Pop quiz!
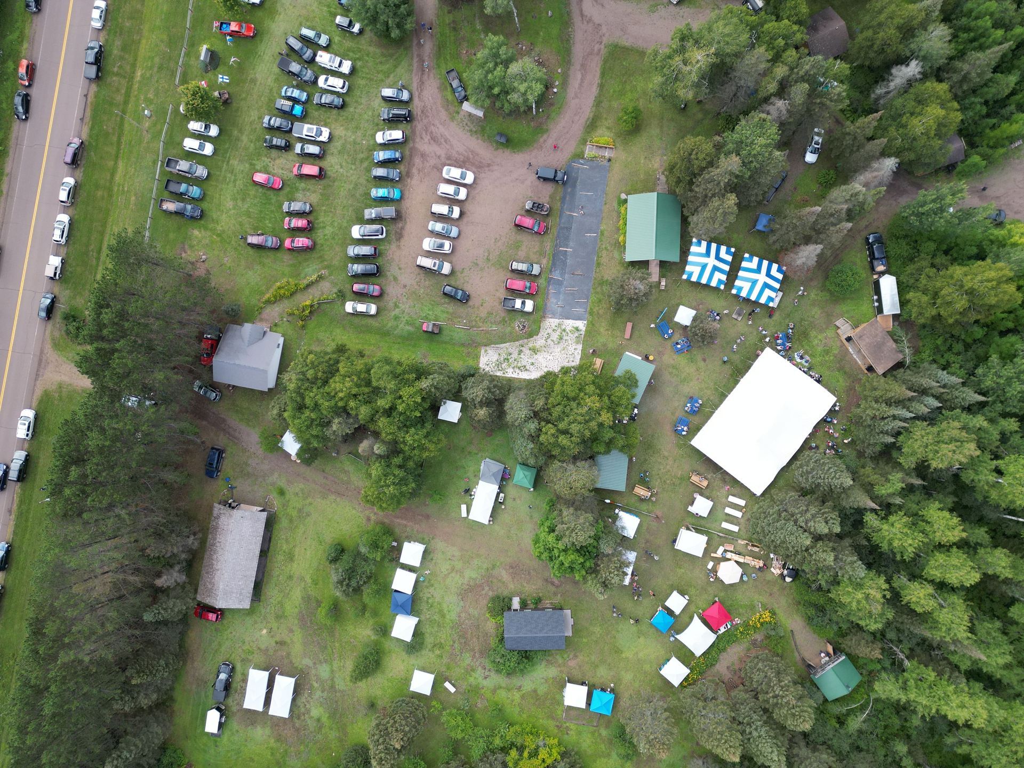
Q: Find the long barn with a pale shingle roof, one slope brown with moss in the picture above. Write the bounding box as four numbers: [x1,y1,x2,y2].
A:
[197,502,276,609]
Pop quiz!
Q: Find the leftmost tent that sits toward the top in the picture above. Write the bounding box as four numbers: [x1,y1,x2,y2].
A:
[675,237,735,297]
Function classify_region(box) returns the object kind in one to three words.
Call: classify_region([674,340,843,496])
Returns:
tent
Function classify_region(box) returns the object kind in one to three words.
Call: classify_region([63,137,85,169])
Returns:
car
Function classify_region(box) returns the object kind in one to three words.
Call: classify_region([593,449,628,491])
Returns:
shed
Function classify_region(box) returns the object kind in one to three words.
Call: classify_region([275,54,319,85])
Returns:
truck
